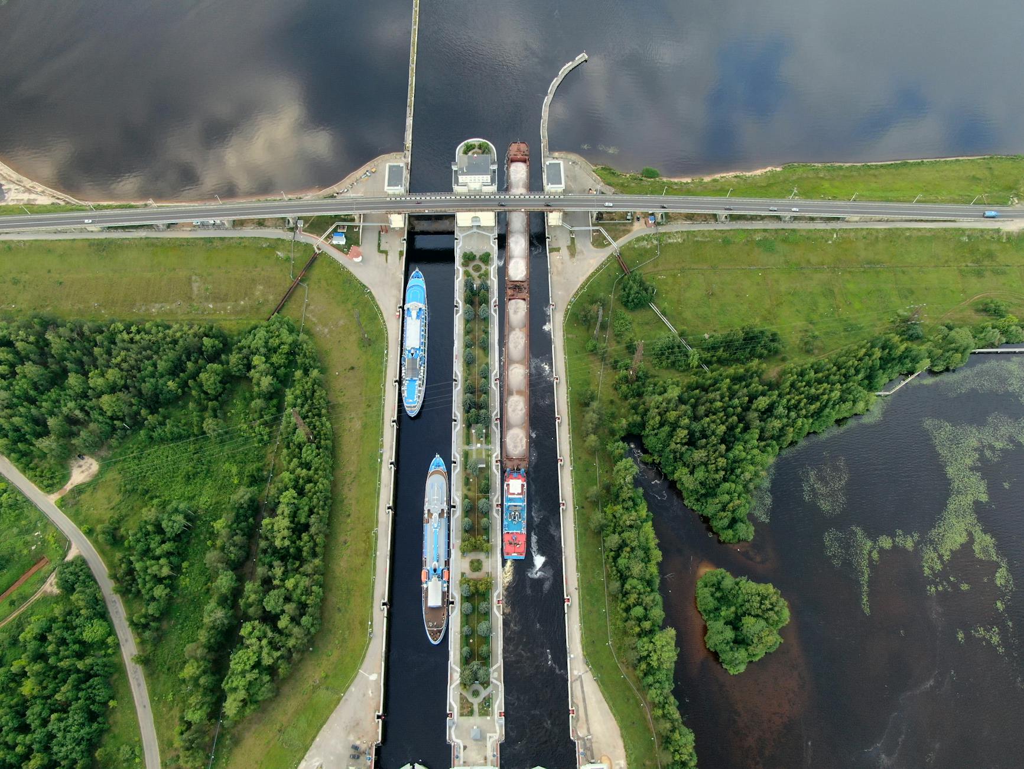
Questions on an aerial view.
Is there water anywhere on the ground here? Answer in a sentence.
Yes, the picture does contain water.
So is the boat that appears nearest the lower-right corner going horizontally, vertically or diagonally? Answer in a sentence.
The boat that appears nearest the lower-right corner runs vertically in the image.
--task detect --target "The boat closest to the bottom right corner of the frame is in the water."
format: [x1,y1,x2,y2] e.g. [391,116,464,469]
[503,468,526,559]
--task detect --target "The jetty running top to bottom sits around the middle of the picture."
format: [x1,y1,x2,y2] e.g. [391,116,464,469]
[447,138,505,769]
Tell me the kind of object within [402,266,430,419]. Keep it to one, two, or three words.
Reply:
ship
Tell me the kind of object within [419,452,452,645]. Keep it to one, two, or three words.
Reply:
ship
